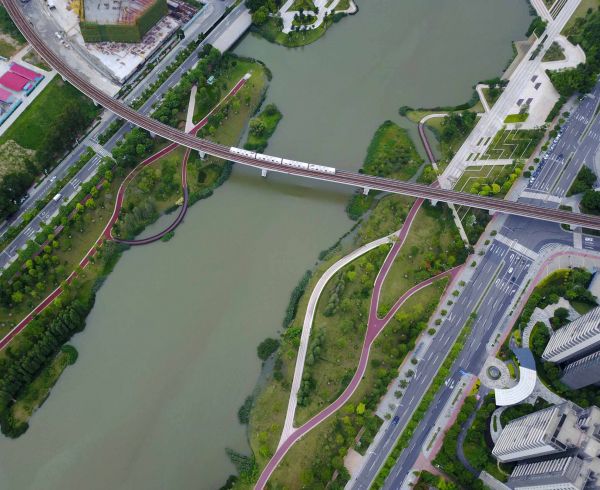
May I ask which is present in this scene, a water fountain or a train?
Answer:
train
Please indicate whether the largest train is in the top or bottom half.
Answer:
top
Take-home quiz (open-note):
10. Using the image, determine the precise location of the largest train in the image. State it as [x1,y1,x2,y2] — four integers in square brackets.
[231,149,336,175]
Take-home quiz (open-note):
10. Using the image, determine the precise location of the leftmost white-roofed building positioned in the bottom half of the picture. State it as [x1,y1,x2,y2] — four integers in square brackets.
[492,348,536,406]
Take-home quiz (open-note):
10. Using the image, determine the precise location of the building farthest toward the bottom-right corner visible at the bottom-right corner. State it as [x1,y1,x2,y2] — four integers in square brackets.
[496,402,600,490]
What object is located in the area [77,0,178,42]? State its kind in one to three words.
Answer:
building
